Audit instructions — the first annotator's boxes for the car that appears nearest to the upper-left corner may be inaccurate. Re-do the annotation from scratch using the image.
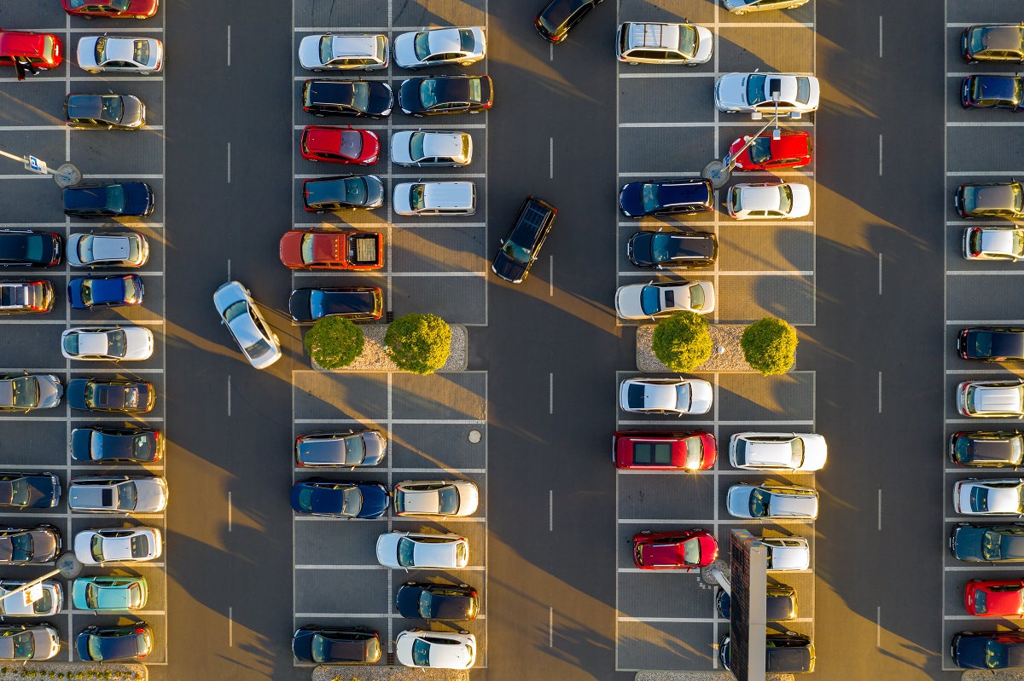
[0,31,65,84]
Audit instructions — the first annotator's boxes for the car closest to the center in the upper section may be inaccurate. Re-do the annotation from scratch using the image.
[494,197,556,281]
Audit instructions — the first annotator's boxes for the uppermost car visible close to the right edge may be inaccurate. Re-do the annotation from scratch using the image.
[959,24,1024,66]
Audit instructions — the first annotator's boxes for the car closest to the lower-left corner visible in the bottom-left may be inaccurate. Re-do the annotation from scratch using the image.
[0,614,62,661]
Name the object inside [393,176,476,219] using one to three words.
van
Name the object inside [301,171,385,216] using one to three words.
vehicle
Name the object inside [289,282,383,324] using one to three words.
car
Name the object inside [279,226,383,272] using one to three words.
truck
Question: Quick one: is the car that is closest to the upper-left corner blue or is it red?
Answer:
red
